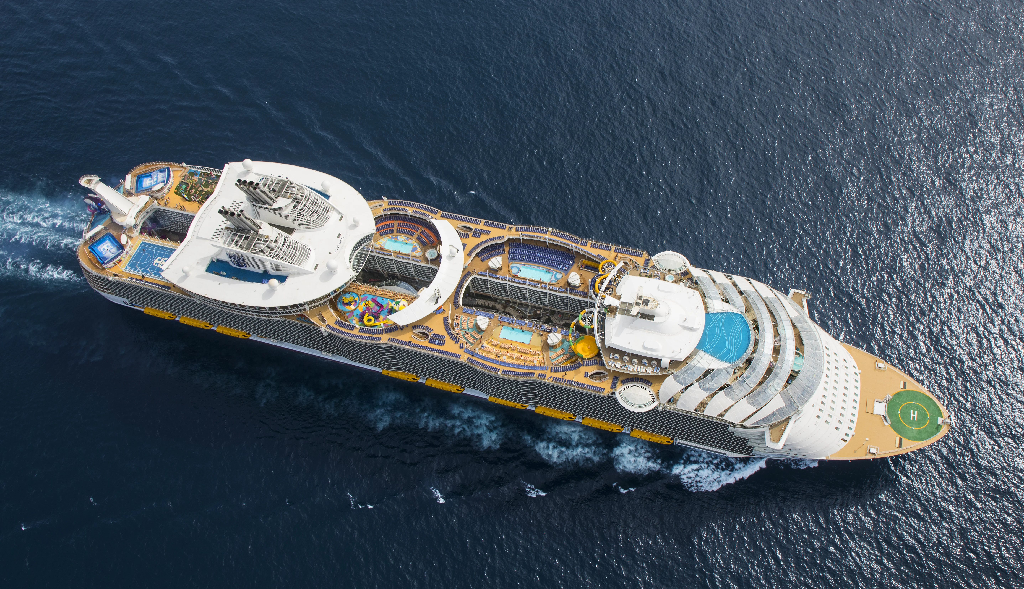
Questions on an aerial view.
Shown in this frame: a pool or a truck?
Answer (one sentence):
The one in the frame is a pool.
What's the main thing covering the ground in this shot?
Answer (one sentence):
The largest share of the image is taken up by water.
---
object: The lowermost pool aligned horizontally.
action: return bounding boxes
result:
[492,324,543,347]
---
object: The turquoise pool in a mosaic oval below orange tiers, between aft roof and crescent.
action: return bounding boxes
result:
[375,235,423,256]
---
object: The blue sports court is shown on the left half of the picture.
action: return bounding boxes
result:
[107,229,183,280]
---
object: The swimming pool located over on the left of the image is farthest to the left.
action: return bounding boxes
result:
[335,290,361,314]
